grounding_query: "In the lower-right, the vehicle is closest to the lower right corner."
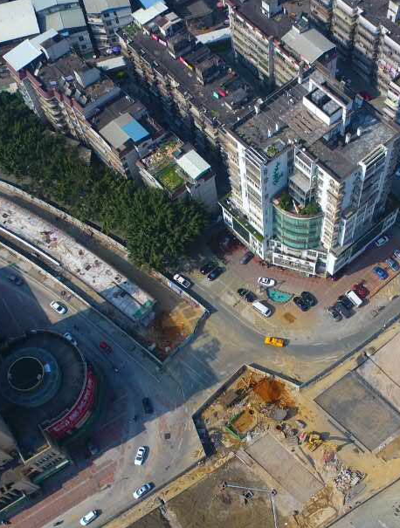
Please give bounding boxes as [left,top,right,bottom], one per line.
[303,430,334,454]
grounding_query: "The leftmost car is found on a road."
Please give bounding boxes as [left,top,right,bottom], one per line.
[7,272,24,285]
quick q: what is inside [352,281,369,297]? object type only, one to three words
car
